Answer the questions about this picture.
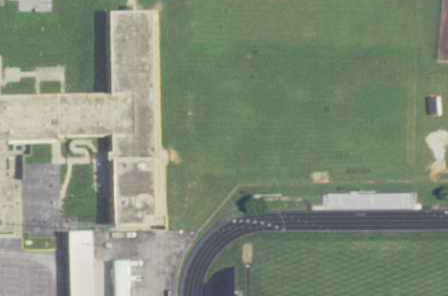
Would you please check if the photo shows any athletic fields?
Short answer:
Yes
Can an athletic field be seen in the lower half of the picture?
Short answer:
Yes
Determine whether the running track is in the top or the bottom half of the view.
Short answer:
bottom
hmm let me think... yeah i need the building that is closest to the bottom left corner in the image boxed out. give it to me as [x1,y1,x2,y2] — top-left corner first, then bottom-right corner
[68,231,96,296]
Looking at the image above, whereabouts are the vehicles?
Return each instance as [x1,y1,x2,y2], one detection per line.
[130,260,143,266]
[112,232,135,238]
[130,276,142,280]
